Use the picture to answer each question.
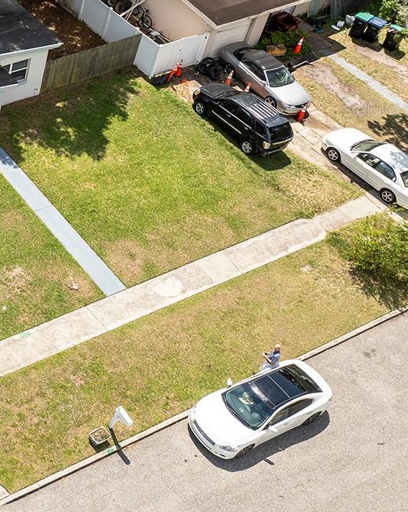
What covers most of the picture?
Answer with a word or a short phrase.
grass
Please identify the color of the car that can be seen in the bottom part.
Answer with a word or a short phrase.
white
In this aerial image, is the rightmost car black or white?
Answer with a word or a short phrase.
white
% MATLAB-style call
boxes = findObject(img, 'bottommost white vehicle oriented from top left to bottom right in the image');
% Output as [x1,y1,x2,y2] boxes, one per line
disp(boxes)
[319,128,408,205]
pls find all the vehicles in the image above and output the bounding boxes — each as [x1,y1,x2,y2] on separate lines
[187,361,343,466]
[224,45,329,119]
[190,80,304,160]
[319,128,408,205]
